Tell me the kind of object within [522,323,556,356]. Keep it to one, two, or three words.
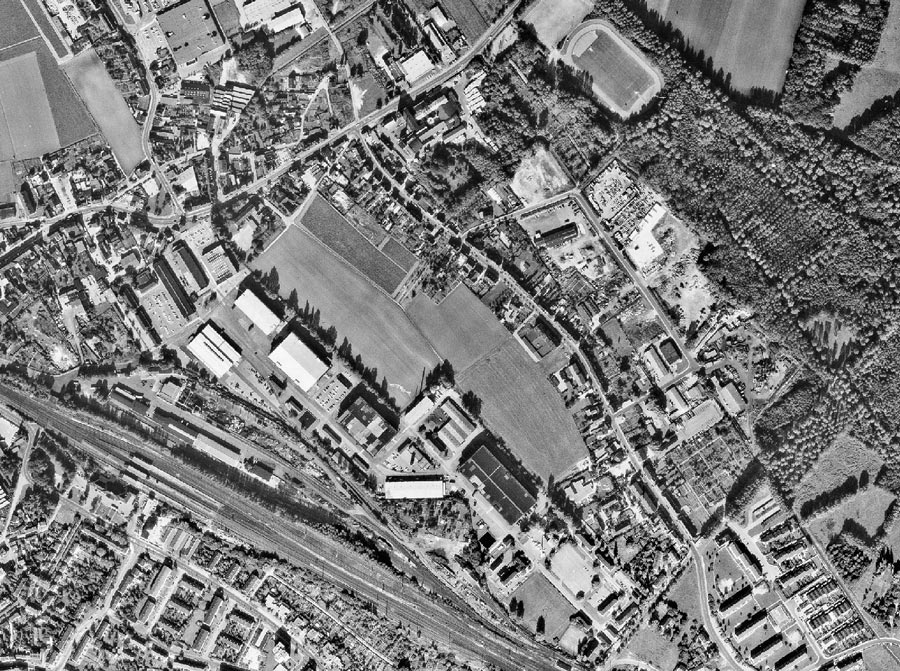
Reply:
greenhouse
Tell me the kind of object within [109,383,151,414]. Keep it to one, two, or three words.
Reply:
shed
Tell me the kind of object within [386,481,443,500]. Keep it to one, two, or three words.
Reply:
building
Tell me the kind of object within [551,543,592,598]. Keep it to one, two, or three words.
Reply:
sports field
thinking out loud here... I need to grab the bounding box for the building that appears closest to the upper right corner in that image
[644,203,667,233]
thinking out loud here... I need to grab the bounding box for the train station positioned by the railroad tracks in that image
[80,443,212,516]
